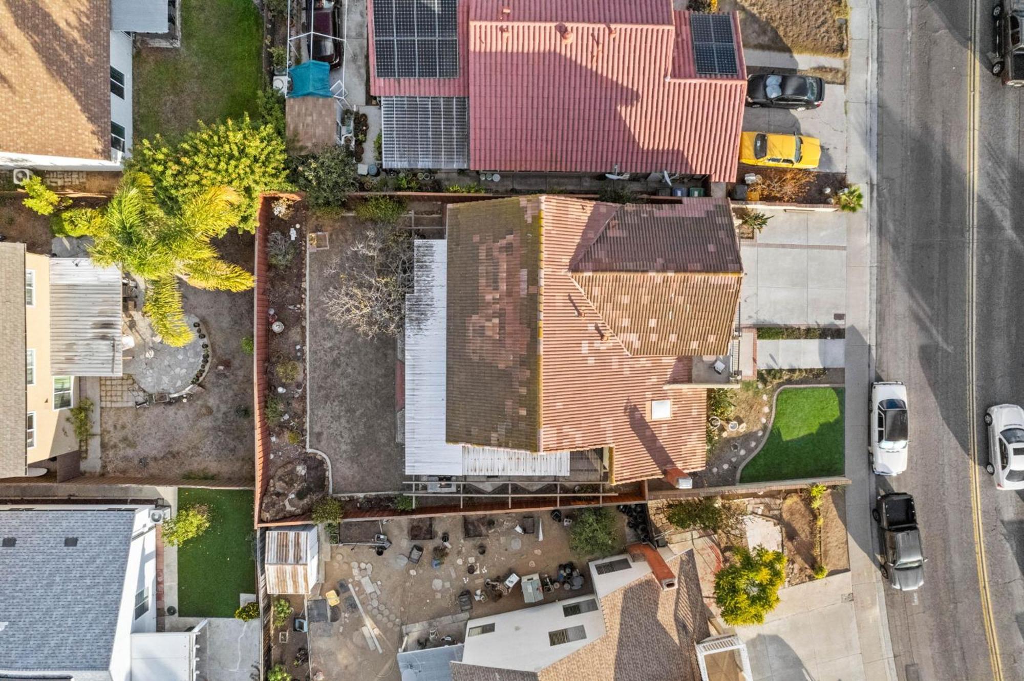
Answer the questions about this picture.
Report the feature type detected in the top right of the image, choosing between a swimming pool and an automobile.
automobile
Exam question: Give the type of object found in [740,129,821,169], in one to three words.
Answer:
car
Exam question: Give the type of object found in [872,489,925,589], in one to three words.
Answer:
vehicle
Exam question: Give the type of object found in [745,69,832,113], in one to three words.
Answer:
car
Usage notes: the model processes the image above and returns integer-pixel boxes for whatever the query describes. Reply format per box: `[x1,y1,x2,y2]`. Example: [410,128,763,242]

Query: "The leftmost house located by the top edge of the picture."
[0,0,133,168]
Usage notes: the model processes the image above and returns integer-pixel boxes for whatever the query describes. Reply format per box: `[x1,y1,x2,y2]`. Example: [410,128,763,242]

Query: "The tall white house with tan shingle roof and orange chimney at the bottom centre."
[452,532,710,681]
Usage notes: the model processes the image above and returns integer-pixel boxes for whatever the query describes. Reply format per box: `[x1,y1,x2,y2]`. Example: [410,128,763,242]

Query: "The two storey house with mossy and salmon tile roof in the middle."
[445,194,746,493]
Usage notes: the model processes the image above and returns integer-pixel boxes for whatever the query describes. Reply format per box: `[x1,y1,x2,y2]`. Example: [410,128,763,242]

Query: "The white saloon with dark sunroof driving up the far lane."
[981,401,1024,490]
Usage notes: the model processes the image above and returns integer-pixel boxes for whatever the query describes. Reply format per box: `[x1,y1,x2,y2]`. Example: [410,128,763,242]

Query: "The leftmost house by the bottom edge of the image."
[0,504,157,681]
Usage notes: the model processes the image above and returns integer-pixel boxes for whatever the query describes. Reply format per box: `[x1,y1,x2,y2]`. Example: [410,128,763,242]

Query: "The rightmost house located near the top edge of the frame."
[370,0,748,182]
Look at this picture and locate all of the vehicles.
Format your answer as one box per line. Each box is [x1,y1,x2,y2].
[991,0,1024,91]
[866,379,916,475]
[745,69,832,113]
[981,401,1024,490]
[872,489,925,589]
[305,0,344,71]
[740,129,821,169]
